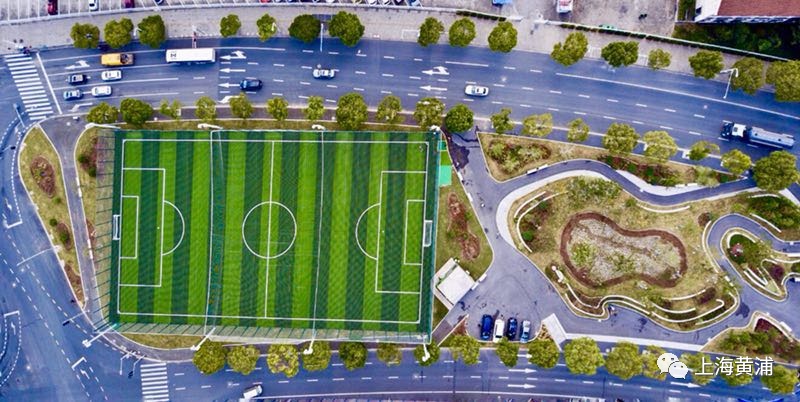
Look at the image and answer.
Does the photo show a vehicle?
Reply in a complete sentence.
Yes, the picture does show a vehicle.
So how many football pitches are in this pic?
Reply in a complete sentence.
I count just 1 football pitch.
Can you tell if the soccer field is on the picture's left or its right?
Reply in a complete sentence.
You can find the soccer field on the left side of the picture.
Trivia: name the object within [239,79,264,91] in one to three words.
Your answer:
vehicle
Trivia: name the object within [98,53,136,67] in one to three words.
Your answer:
vehicle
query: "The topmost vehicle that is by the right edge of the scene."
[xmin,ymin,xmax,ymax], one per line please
[719,123,797,149]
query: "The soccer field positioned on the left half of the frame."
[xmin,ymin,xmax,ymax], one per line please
[109,130,440,334]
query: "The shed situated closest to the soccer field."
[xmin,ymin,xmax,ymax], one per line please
[438,264,474,301]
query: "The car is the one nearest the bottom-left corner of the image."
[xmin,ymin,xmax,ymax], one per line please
[241,383,265,400]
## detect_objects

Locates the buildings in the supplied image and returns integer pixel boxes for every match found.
[701,0,800,20]
[438,264,474,301]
